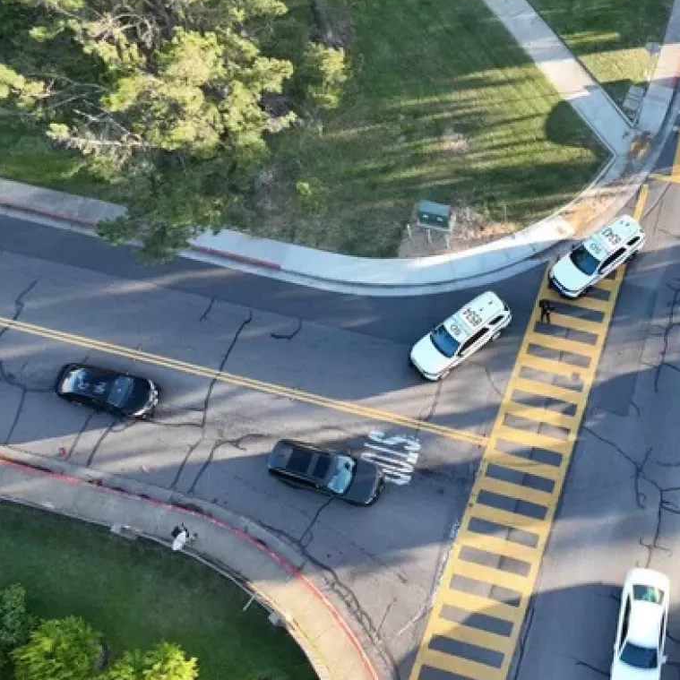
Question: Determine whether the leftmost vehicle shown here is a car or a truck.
car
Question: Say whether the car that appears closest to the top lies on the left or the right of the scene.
right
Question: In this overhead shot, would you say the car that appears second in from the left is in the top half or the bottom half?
bottom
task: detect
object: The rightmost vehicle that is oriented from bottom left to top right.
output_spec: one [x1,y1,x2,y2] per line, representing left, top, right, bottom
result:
[552,215,651,300]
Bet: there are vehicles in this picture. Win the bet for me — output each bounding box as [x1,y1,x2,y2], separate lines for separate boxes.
[552,215,651,300]
[410,291,516,382]
[48,366,166,422]
[611,569,670,680]
[263,439,386,511]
